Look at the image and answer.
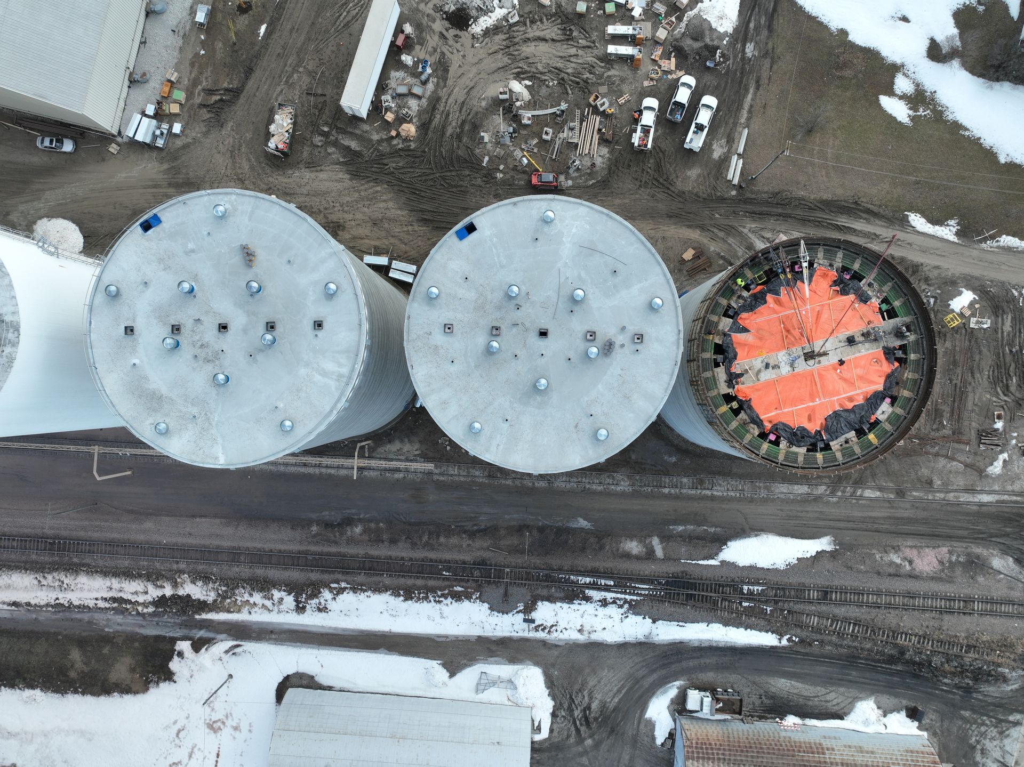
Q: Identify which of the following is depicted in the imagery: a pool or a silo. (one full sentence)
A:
The one in the frame is a silo.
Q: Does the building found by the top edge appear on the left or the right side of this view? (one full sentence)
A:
You can find the building found by the top edge on the left side of the picture.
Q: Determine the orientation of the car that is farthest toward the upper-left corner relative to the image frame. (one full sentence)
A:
The car that is farthest toward the upper-left corner is laid out from side to side.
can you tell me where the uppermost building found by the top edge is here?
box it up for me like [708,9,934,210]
[0,0,150,135]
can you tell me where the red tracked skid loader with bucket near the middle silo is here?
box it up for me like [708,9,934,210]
[531,172,566,193]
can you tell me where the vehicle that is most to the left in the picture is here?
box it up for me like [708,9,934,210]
[37,135,78,155]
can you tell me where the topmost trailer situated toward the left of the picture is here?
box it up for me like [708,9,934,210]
[340,0,399,120]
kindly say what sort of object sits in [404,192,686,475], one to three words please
silo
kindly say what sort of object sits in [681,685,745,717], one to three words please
truck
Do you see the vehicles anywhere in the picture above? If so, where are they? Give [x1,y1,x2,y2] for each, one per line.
[683,94,718,158]
[665,73,696,127]
[629,96,660,156]
[681,685,745,717]
[531,172,566,193]
[37,135,78,155]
